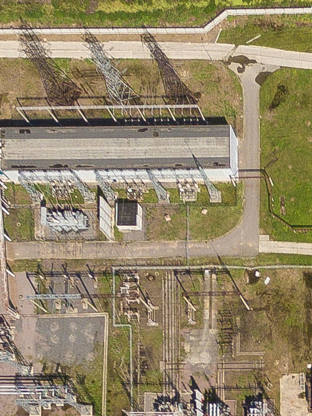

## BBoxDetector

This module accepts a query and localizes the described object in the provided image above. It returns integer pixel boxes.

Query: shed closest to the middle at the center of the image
[117,201,141,230]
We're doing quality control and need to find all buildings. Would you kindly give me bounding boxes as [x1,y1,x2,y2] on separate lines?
[117,201,141,230]
[0,125,237,183]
